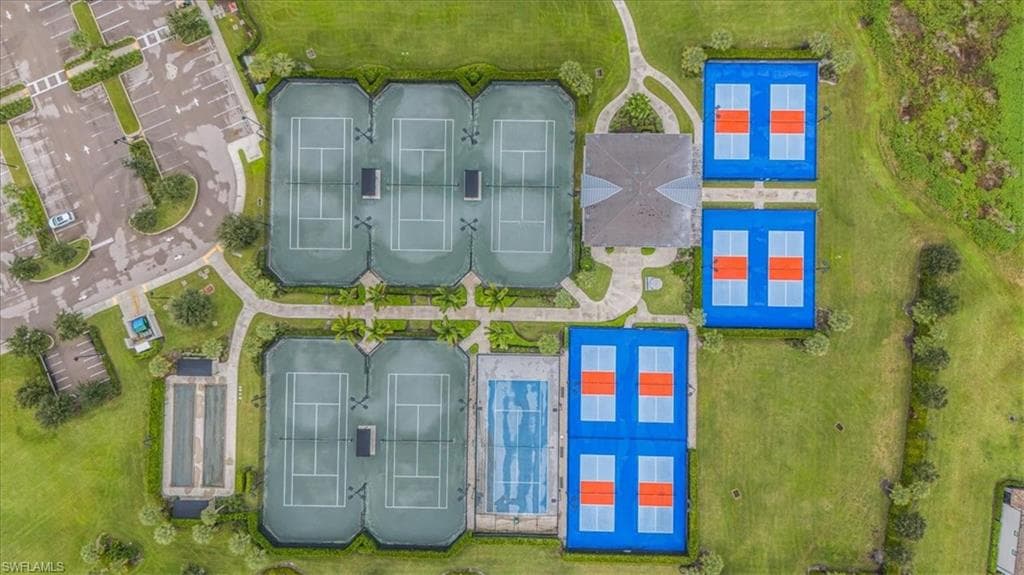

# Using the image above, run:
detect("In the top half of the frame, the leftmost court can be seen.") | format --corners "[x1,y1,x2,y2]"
[269,83,372,283]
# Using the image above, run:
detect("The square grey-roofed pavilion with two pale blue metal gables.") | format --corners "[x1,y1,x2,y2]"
[580,133,701,247]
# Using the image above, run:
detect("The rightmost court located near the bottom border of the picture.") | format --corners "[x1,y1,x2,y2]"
[627,439,687,553]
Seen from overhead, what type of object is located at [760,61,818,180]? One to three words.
sports court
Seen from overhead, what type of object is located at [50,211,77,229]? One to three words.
car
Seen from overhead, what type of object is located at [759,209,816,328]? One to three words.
sports court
